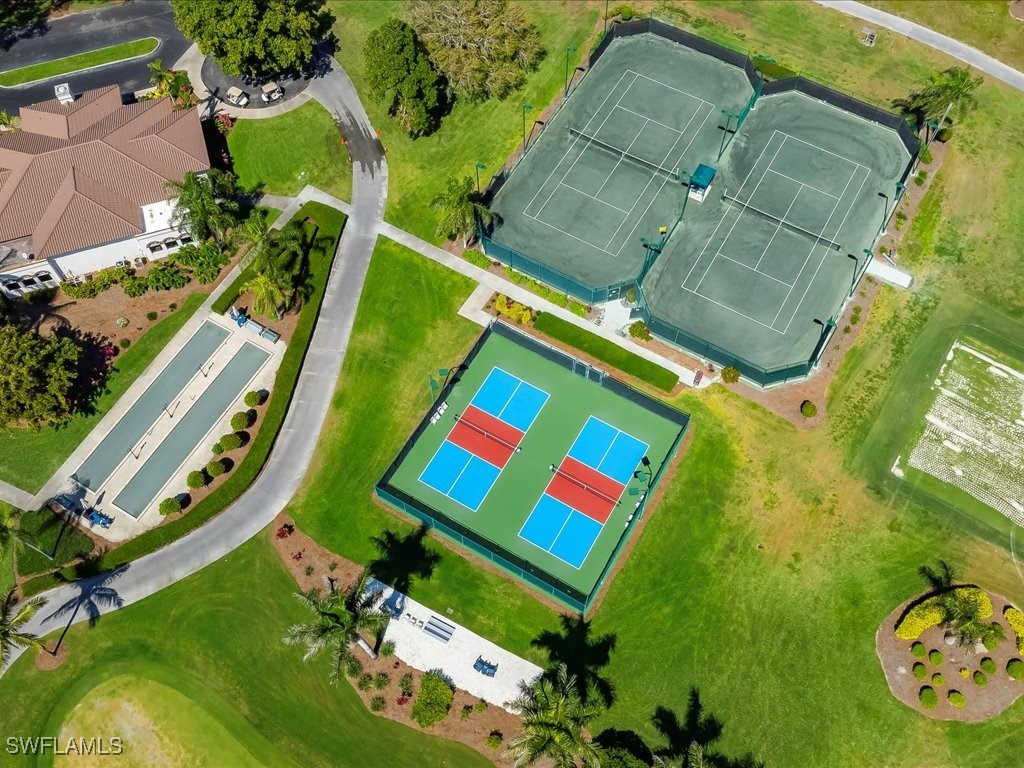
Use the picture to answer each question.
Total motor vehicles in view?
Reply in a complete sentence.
The photo contains 2 motor vehicles.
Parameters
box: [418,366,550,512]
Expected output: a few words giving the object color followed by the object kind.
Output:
blue sports court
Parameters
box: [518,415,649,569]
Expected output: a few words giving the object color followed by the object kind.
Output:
blue sports court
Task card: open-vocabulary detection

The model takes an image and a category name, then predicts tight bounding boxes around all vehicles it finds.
[224,81,247,107]
[261,78,284,103]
